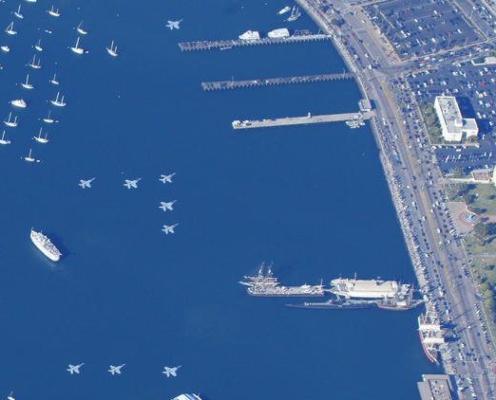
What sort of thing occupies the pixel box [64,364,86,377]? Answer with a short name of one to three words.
airplane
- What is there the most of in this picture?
water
